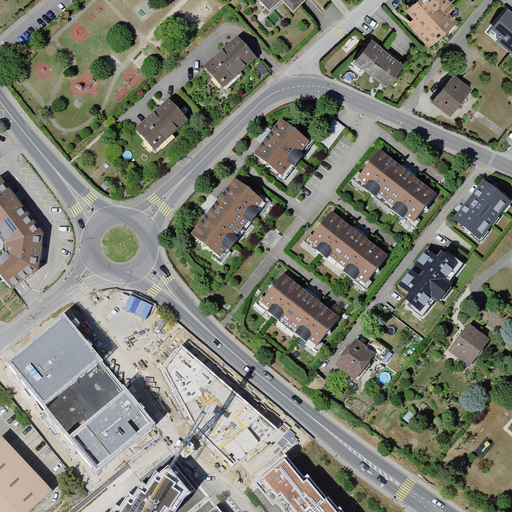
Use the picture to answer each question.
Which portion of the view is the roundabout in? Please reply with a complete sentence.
The roundabout is located in the left region of the scene.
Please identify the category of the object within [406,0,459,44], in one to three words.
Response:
house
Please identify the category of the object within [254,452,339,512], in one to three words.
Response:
building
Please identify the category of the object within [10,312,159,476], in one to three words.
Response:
building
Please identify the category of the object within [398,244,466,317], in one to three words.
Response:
house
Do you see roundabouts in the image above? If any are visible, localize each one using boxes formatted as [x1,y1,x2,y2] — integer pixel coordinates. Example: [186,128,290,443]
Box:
[80,205,160,285]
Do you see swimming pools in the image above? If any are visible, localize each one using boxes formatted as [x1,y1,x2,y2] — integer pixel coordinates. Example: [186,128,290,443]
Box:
[122,150,133,160]
[378,371,392,384]
[344,72,354,82]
